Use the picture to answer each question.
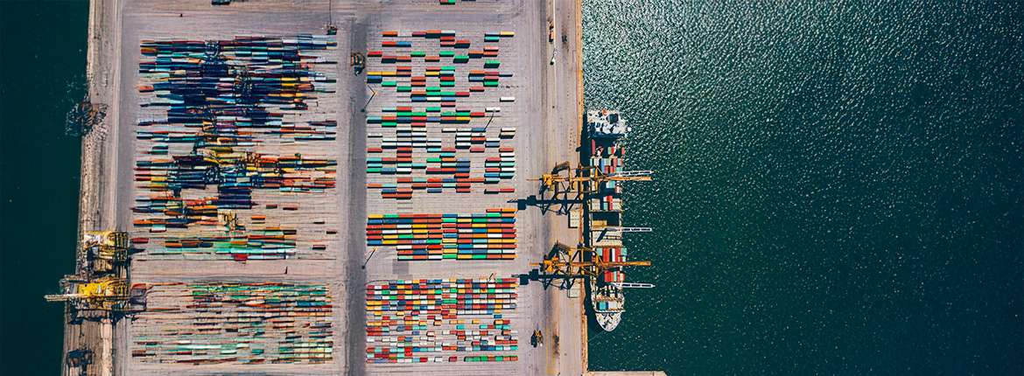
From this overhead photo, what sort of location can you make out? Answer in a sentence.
The area seen from above is a port.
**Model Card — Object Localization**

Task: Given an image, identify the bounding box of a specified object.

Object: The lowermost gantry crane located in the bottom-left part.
[46,272,137,314]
